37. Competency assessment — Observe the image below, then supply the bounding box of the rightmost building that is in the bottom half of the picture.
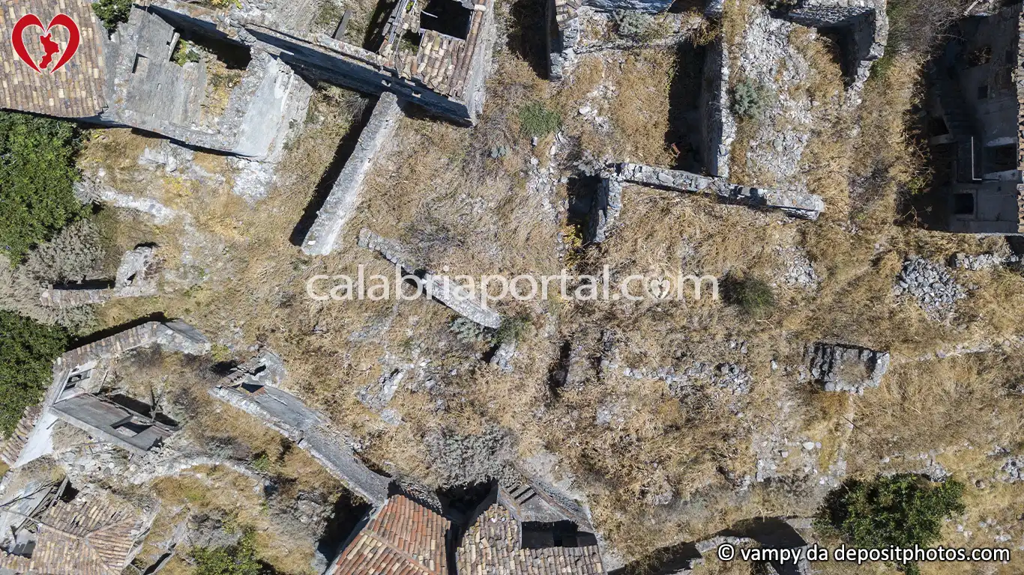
[453,485,605,575]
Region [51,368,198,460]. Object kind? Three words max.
house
